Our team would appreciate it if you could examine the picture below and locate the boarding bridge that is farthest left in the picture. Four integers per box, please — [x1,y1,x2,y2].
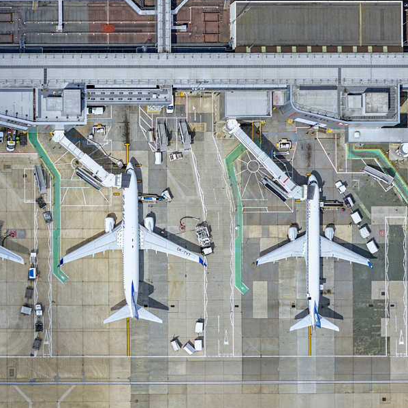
[50,129,134,189]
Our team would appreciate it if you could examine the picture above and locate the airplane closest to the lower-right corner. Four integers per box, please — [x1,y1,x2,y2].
[256,200,375,332]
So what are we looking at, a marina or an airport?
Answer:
airport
